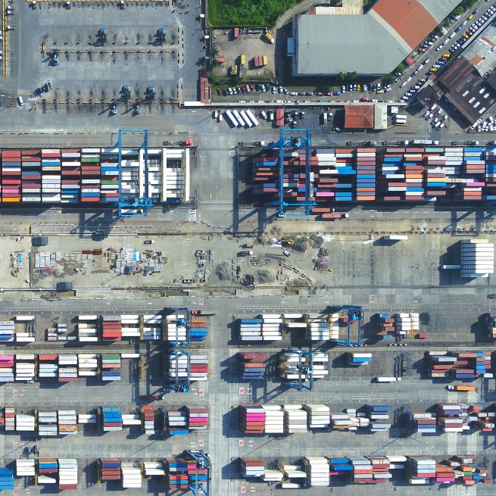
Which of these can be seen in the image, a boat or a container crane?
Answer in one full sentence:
The image shows a container crane.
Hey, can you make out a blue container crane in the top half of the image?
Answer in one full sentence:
Yes, in the top half of the image there is a blue container crane.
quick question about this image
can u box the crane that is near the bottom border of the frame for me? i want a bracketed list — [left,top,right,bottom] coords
[185,449,210,496]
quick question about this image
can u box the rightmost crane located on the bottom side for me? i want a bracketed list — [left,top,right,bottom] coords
[330,305,362,344]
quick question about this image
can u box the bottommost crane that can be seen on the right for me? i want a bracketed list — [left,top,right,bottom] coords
[283,347,313,389]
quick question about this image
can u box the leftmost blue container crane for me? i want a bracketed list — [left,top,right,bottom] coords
[109,129,154,216]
